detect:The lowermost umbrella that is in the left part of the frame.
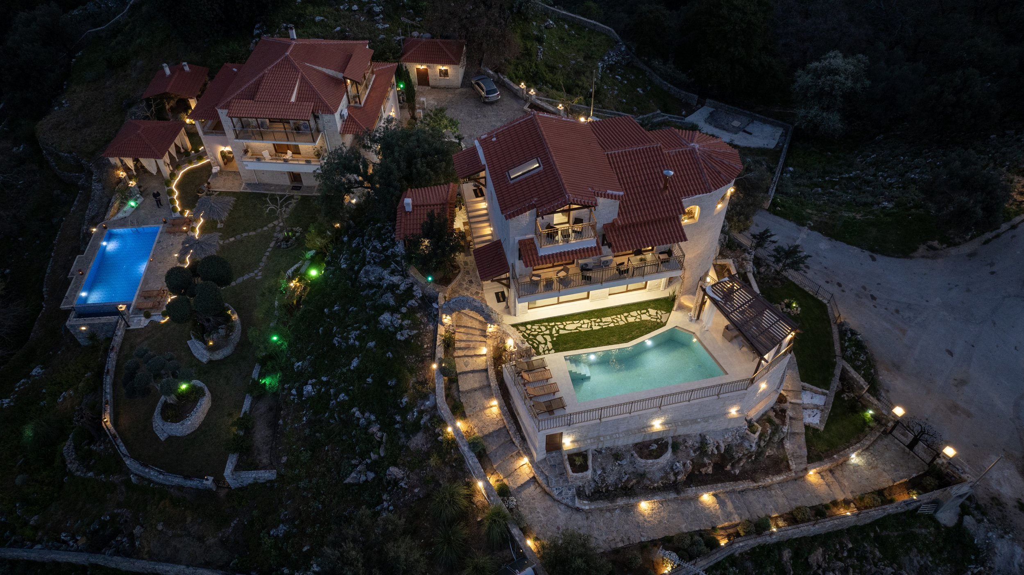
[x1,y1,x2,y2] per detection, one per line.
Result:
[176,236,220,265]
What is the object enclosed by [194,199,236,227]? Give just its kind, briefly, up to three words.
umbrella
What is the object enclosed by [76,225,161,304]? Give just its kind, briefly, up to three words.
swimming pool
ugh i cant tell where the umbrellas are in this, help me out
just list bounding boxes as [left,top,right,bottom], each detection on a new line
[194,199,236,227]
[176,236,220,265]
